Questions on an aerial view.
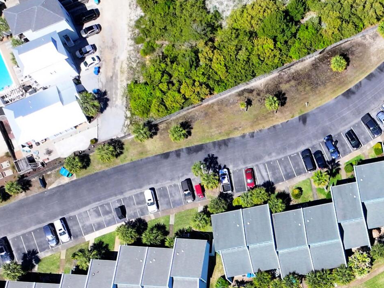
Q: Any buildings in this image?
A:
Yes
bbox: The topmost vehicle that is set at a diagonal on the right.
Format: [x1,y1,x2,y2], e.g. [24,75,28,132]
[361,113,380,136]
